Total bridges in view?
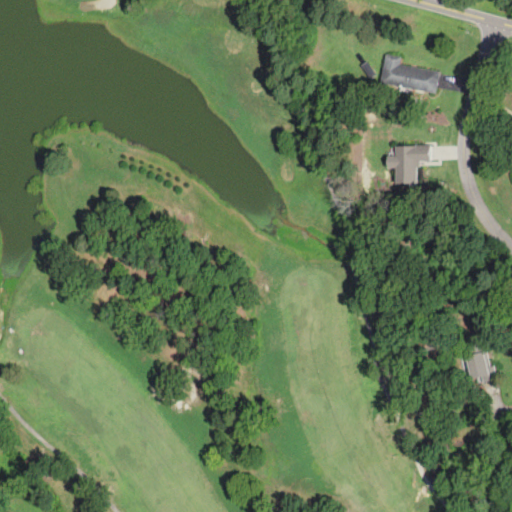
zero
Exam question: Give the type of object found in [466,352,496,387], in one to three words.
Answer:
house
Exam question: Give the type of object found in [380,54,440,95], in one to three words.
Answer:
house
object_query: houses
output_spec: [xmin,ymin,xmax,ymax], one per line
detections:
[380,54,440,95]
[466,352,496,387]
[386,145,432,184]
